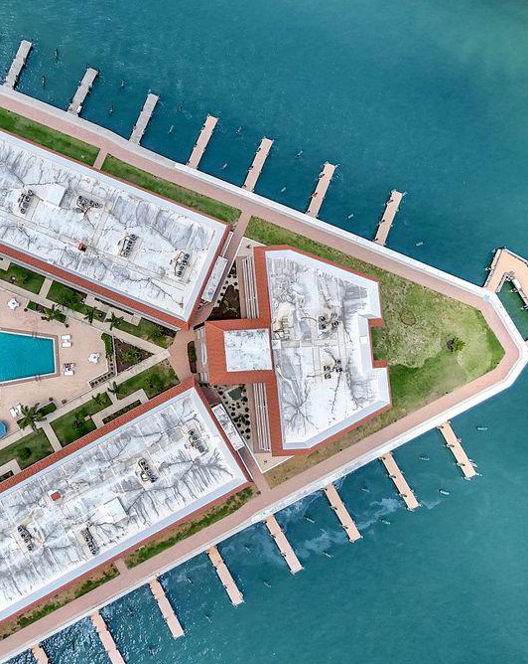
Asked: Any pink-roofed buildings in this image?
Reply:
No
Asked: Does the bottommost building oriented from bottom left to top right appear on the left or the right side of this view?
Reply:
left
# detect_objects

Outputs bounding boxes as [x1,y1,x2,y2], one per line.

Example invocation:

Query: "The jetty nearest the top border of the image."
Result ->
[3,37,34,90]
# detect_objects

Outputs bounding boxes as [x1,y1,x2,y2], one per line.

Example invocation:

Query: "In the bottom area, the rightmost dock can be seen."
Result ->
[437,419,482,480]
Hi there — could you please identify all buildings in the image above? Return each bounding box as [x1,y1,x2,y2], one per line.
[0,378,252,626]
[190,245,390,455]
[0,127,234,330]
